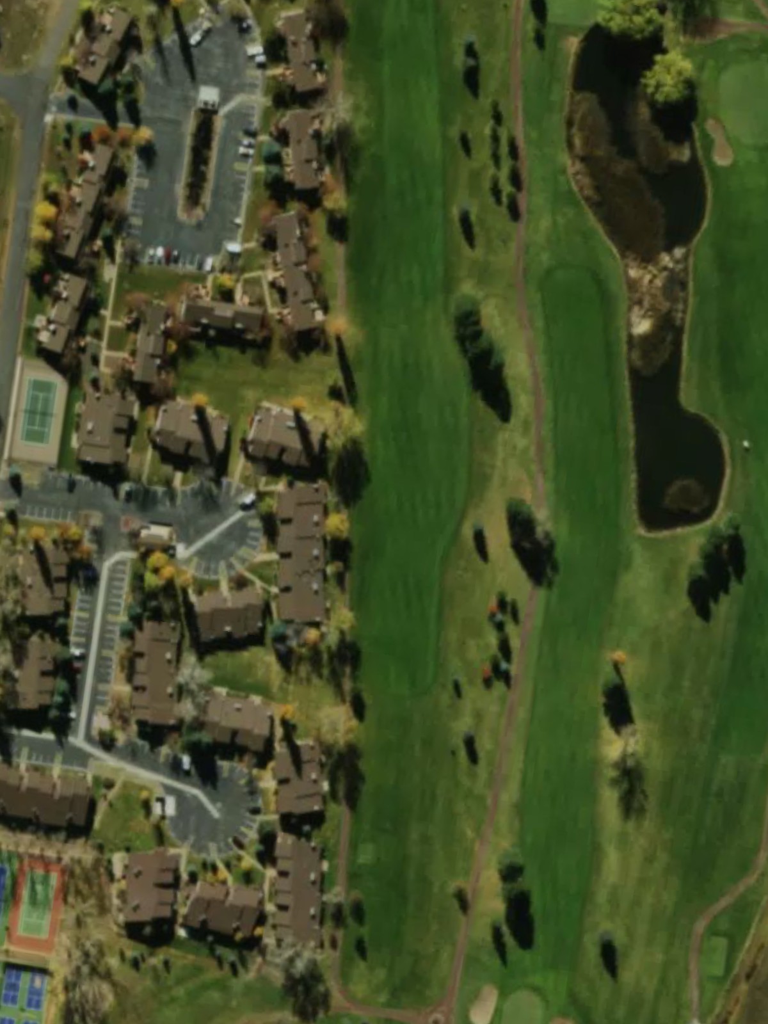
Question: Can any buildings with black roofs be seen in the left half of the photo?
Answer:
No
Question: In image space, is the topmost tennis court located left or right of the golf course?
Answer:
left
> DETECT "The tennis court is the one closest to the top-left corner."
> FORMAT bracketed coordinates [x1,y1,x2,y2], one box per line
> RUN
[9,361,67,465]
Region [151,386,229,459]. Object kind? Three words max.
house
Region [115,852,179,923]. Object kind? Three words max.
house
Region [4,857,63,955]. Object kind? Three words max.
tennis court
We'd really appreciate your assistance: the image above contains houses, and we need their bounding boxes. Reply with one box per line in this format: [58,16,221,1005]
[184,882,263,941]
[274,835,335,945]
[194,587,268,650]
[72,2,131,83]
[5,637,60,706]
[0,764,92,831]
[273,211,330,330]
[115,852,179,923]
[130,302,180,387]
[286,108,334,189]
[279,8,329,91]
[68,391,134,465]
[277,482,339,620]
[245,395,330,469]
[276,743,334,812]
[13,542,72,614]
[151,386,229,459]
[201,678,274,747]
[30,270,88,351]
[133,620,191,721]
[182,300,264,340]
[47,140,114,258]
